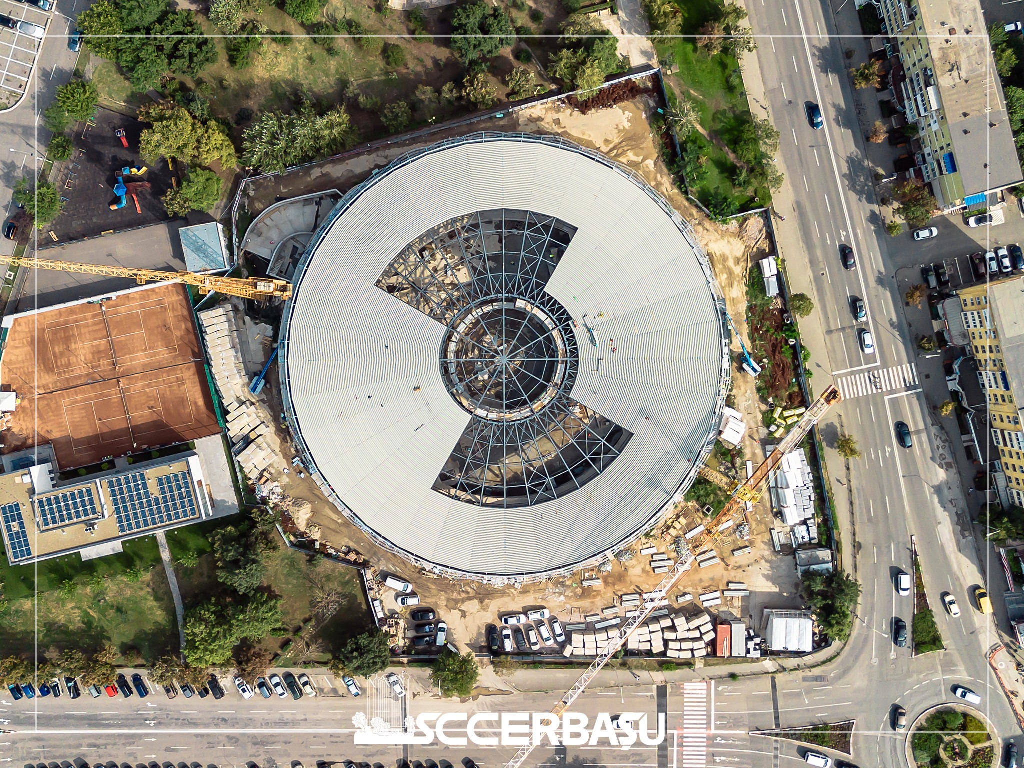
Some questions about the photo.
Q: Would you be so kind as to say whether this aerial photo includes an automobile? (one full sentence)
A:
Yes, an automobile can be made out from above.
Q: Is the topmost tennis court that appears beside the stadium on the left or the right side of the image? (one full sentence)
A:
The topmost tennis court that appears beside the stadium is on the left side of the image.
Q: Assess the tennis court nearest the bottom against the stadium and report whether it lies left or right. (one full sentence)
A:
Compared with the stadium, the tennis court nearest the bottom is located further to the left.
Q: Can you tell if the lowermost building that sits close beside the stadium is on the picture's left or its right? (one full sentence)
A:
It is on the left.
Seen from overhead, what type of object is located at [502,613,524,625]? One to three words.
vehicle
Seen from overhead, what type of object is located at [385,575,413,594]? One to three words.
vehicle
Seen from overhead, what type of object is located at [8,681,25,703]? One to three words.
car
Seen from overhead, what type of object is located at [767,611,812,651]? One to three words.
shed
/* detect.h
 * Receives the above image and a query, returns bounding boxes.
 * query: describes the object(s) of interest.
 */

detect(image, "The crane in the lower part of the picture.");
[500,382,846,768]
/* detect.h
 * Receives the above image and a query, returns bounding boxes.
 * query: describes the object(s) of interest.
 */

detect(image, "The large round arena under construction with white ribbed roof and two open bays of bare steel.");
[277,131,732,586]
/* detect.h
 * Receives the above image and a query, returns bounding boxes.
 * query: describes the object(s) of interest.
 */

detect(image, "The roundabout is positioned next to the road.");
[906,703,1002,768]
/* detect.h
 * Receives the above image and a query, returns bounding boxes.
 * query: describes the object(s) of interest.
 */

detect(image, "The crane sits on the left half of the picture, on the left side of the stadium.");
[0,256,306,327]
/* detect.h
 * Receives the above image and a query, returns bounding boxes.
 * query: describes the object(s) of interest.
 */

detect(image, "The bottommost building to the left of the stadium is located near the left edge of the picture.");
[0,453,228,568]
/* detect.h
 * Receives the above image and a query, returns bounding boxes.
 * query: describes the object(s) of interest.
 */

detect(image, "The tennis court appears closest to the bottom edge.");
[0,361,221,464]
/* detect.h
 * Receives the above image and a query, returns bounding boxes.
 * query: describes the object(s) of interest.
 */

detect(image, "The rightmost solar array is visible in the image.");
[107,471,196,534]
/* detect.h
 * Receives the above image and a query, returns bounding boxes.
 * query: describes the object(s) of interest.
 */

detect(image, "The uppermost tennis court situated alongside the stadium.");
[0,286,199,400]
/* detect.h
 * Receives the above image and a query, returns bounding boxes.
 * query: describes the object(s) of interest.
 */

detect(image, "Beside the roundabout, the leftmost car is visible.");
[894,707,908,732]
